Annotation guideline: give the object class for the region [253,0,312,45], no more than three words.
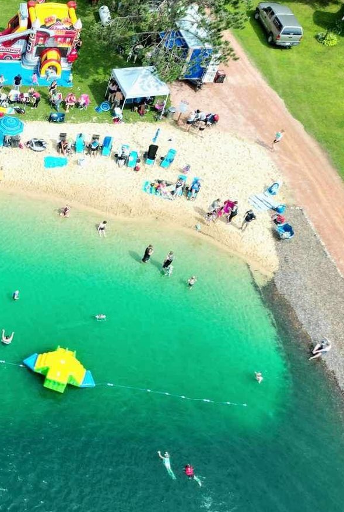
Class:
truck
